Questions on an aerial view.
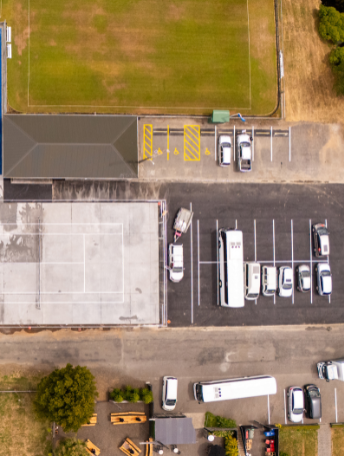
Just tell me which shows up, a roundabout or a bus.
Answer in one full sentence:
The image shows a bus.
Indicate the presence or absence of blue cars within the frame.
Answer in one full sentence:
No, the photo shows no blue car.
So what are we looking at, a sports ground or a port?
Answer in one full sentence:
It's a sports ground.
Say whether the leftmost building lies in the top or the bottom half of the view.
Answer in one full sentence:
The top half of the photo is where the leftmost building is.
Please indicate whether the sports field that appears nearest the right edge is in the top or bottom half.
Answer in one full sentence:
You can find the sports field that appears nearest the right edge in the top half.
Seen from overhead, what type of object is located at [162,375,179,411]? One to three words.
car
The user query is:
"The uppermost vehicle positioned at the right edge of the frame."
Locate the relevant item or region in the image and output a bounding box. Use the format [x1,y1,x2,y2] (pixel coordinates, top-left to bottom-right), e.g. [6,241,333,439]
[311,223,329,258]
